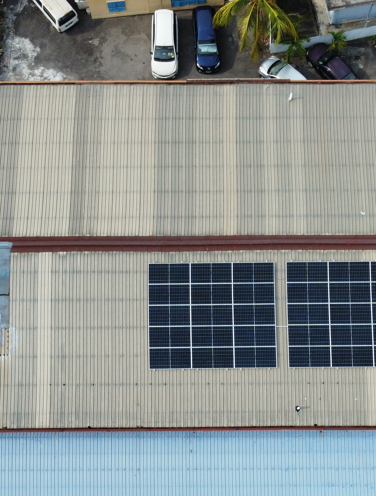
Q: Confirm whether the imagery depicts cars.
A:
Yes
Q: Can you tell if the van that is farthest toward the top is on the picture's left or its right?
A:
left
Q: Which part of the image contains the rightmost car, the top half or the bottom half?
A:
top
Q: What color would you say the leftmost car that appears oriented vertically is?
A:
white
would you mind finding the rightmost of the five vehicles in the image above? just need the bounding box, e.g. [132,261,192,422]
[308,43,362,78]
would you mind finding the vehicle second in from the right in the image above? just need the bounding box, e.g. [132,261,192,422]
[261,57,304,79]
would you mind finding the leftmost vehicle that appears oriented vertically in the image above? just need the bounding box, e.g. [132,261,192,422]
[149,11,182,79]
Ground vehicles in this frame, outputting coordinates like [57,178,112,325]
[261,57,304,79]
[193,11,224,75]
[29,0,76,35]
[149,11,182,79]
[308,43,362,78]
